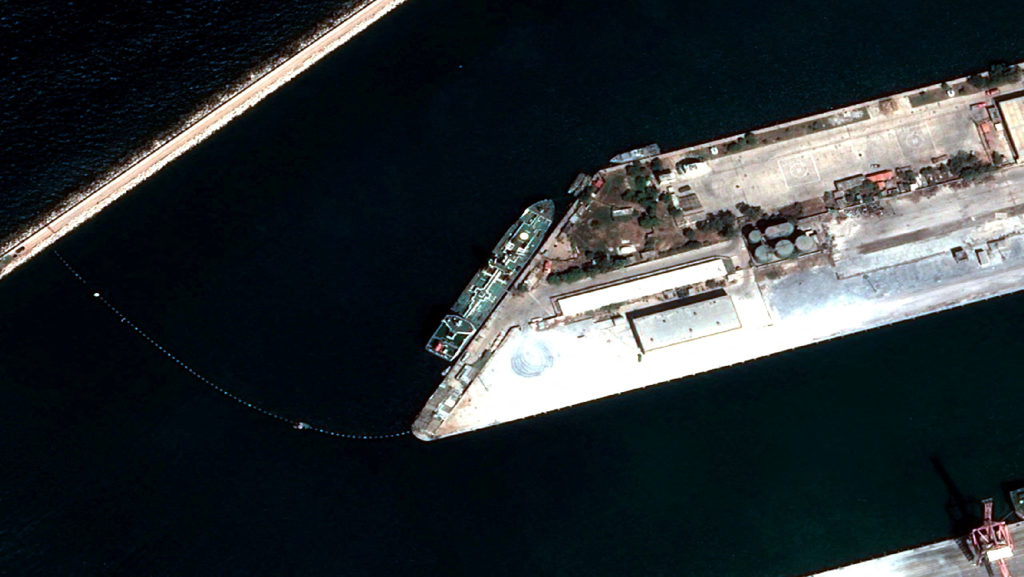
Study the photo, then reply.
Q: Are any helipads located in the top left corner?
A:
No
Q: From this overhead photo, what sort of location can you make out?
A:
port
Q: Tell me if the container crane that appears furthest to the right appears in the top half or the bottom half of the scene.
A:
bottom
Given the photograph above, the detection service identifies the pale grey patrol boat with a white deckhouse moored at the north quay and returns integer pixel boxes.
[610,143,660,163]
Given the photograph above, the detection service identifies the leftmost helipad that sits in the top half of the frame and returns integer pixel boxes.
[778,152,820,187]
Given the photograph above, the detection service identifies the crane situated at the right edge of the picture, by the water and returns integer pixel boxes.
[963,501,1013,577]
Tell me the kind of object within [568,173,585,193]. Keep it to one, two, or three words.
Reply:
boat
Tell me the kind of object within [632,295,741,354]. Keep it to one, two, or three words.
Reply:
building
